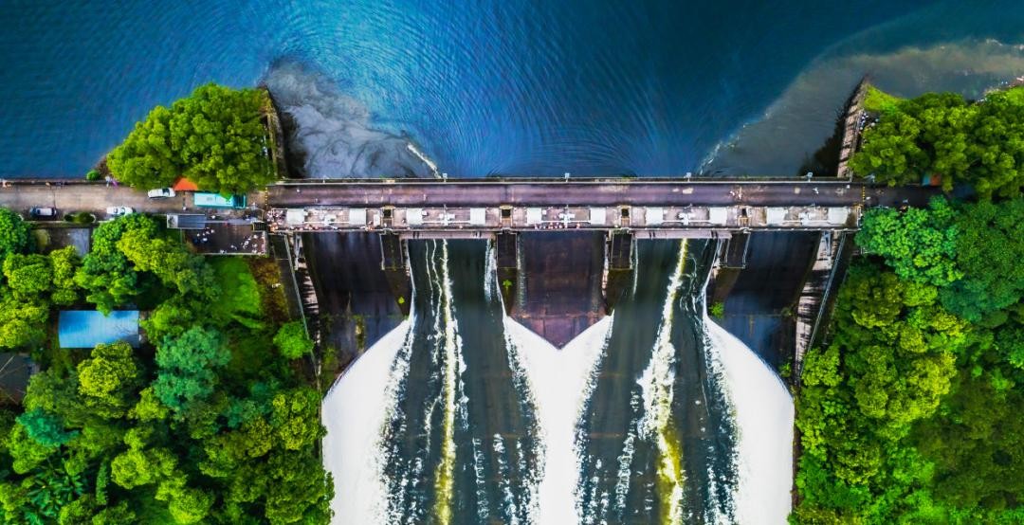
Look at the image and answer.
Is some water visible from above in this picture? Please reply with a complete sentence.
Yes, there's water in this view.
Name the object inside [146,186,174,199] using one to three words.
vehicle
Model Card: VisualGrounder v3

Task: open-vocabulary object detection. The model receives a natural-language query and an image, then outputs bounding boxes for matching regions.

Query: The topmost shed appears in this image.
[162,214,207,229]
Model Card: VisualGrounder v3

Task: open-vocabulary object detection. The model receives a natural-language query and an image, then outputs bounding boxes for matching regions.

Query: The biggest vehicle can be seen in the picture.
[187,192,244,208]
